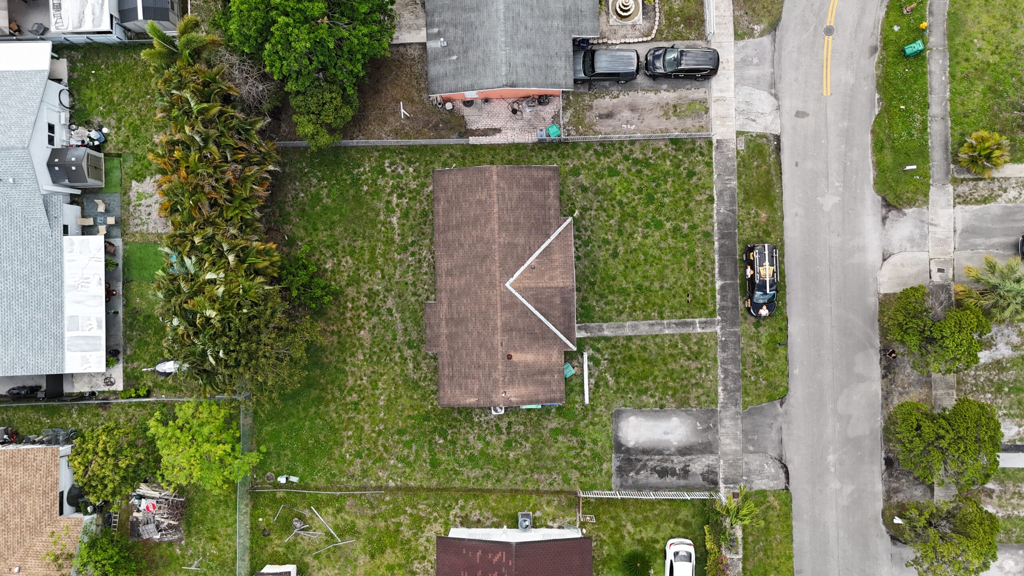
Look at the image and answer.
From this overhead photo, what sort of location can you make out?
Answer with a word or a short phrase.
residential area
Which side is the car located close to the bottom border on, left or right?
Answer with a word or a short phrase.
right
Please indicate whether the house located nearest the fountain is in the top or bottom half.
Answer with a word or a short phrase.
top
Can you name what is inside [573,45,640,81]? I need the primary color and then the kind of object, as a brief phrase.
gray car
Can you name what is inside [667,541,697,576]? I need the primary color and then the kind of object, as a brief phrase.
white car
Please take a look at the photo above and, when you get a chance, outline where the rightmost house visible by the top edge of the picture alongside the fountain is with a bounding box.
[426,0,600,101]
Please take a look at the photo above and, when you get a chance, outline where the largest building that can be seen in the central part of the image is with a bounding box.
[424,164,577,407]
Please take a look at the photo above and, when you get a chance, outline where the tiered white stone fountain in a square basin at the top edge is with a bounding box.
[610,0,643,28]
